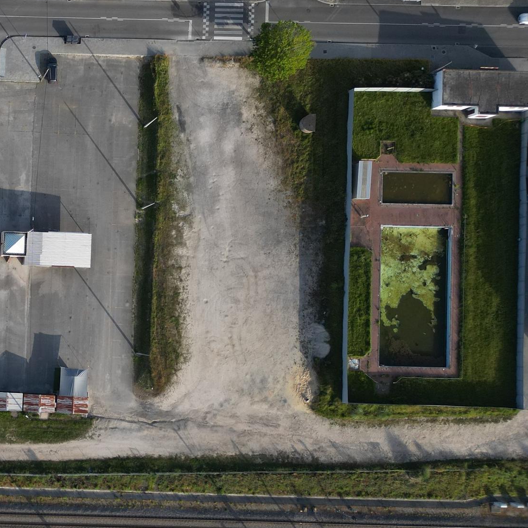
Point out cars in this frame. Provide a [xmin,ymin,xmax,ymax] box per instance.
[519,12,528,22]
[46,56,58,83]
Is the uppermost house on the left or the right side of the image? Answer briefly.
right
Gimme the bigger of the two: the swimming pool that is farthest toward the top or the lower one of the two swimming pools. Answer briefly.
the lower one of the two swimming pools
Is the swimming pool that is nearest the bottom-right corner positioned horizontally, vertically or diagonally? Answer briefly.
vertically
